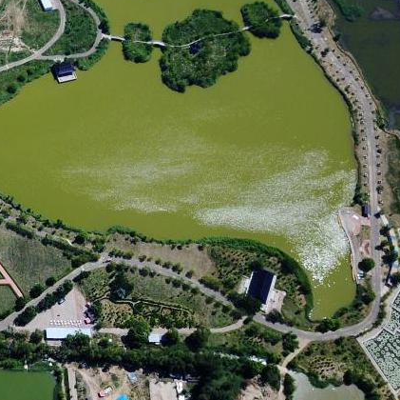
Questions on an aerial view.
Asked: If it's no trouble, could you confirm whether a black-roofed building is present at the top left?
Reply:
Yes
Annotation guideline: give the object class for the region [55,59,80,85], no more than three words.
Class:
building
